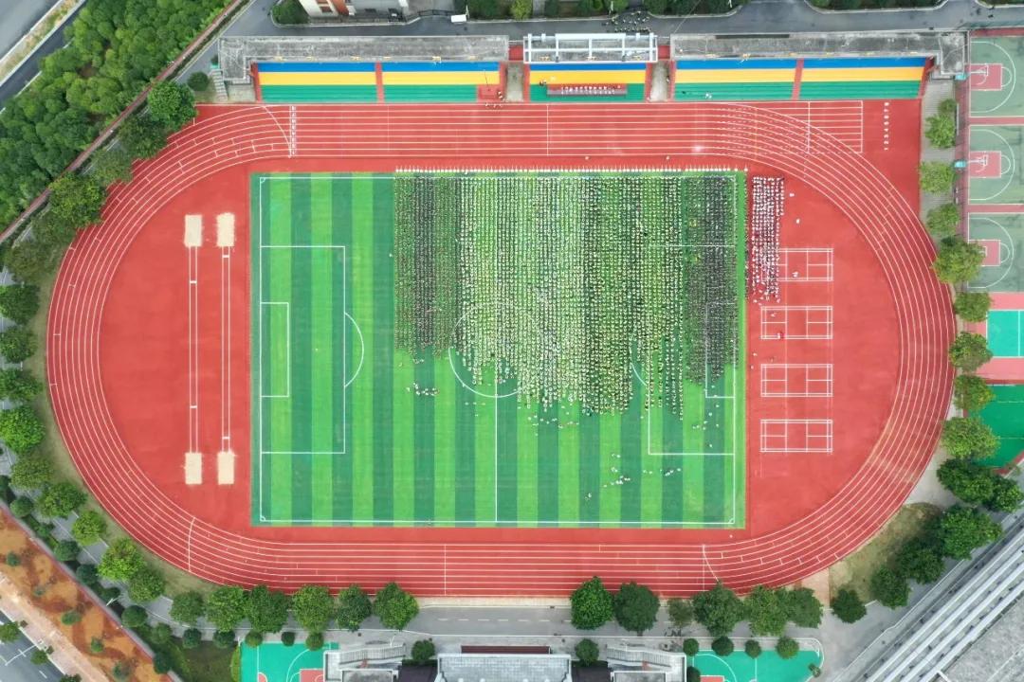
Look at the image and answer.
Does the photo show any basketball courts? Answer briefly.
Yes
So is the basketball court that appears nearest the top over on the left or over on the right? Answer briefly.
right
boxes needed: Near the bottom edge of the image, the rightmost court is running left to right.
[689,651,822,682]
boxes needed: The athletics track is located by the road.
[47,99,955,599]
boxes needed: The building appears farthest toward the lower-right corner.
[832,507,1024,682]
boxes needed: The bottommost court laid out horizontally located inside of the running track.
[761,419,833,453]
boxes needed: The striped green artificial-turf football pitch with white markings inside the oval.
[249,171,747,530]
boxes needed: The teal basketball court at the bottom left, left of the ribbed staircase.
[240,643,339,682]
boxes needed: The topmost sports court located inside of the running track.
[761,248,833,281]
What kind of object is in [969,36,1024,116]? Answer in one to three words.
basketball court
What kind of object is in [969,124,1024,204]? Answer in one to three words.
basketball court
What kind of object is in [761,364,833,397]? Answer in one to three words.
sports court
